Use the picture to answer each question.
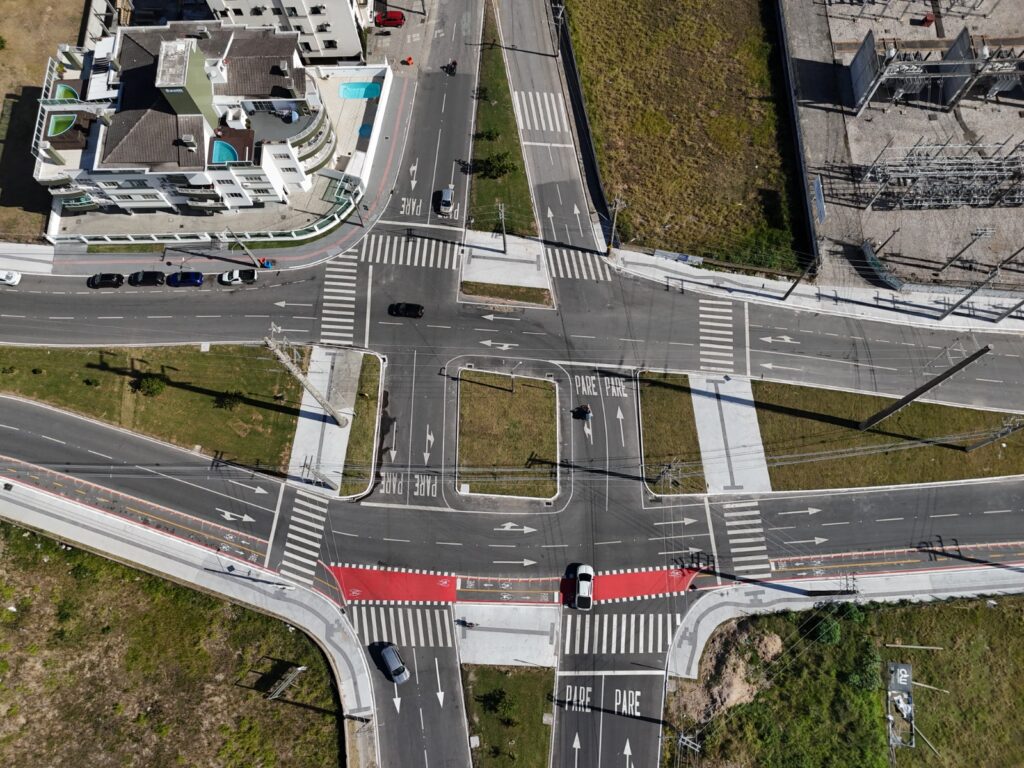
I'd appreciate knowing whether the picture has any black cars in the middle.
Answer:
Yes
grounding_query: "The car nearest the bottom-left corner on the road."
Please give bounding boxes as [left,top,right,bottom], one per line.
[378,641,409,687]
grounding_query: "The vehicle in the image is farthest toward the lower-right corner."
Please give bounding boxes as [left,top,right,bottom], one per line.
[574,564,595,612]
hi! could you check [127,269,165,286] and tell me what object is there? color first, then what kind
black car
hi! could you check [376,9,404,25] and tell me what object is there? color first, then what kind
red car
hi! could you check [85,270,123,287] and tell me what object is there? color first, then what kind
black car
